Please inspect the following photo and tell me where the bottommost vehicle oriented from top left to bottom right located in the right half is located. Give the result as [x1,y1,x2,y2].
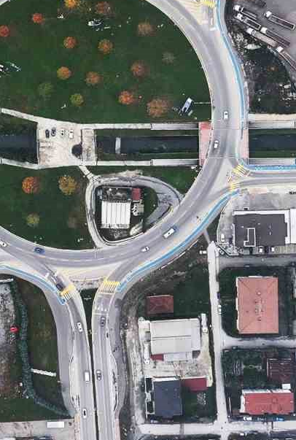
[276,46,296,70]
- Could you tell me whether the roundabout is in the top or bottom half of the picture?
top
